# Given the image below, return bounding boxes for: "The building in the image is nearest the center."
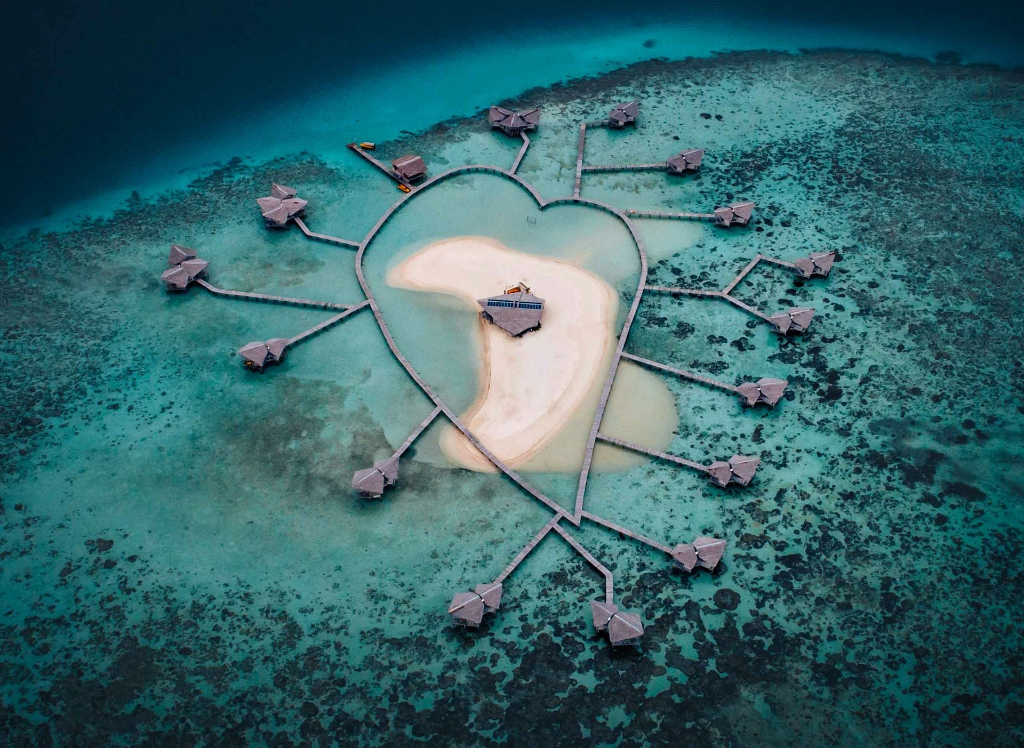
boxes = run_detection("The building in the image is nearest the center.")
[478,293,545,338]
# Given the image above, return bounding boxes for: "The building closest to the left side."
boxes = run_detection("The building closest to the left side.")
[161,245,215,300]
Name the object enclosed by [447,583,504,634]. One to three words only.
house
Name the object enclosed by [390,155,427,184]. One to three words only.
building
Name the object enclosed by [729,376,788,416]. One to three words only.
house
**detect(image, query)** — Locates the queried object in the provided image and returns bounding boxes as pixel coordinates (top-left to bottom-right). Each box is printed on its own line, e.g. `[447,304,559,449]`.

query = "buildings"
[239,338,292,378]
[763,306,815,344]
[729,376,788,416]
[488,106,542,143]
[257,184,311,235]
[478,293,545,338]
[664,150,704,180]
[703,453,760,495]
[607,99,642,133]
[667,533,726,578]
[787,252,835,287]
[390,155,427,184]
[447,583,504,634]
[352,458,404,507]
[587,602,643,653]
[161,245,215,300]
[710,203,755,233]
